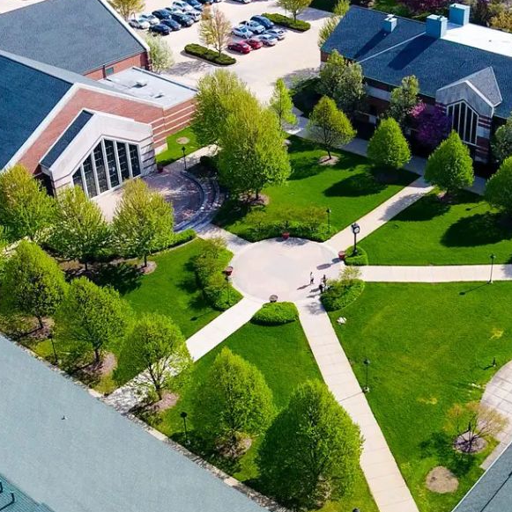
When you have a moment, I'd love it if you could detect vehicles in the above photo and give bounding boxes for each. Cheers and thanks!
[238,18,267,32]
[256,33,281,45]
[139,13,162,25]
[229,41,252,53]
[170,10,194,25]
[187,0,203,8]
[183,6,206,21]
[151,7,170,20]
[230,25,254,37]
[129,19,152,29]
[149,24,172,35]
[243,37,266,50]
[250,12,275,26]
[265,28,290,39]
[163,4,183,13]
[159,19,182,30]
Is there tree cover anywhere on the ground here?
Yes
